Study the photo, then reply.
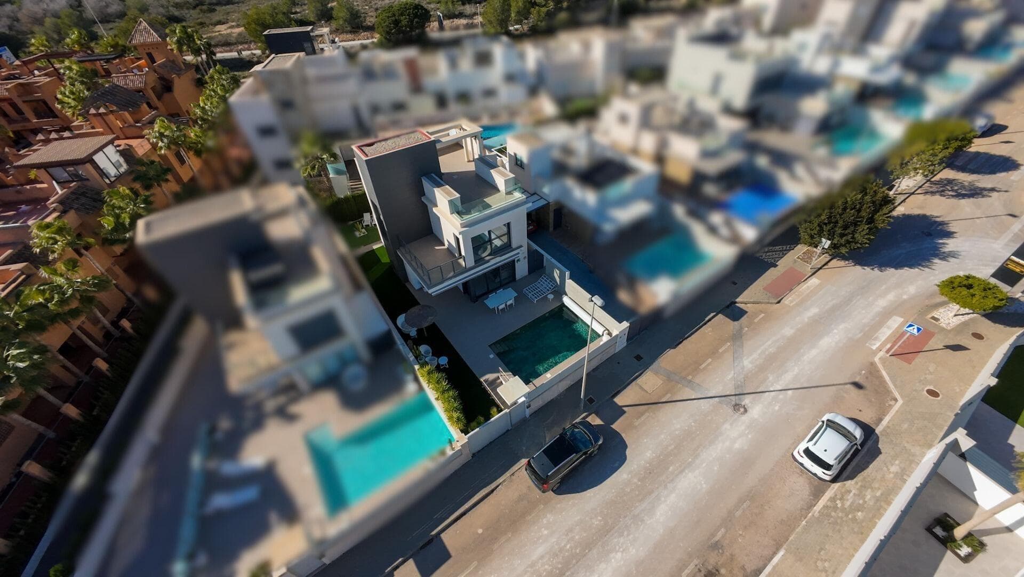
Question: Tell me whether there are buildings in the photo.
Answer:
Yes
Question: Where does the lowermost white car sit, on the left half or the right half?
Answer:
right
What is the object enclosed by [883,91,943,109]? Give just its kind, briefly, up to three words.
swimming pool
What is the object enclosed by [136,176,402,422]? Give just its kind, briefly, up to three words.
house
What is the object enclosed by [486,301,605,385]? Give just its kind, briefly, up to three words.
swimming pool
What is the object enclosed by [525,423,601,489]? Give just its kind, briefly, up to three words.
car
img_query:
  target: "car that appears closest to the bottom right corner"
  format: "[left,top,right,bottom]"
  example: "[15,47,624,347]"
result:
[799,416,865,482]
